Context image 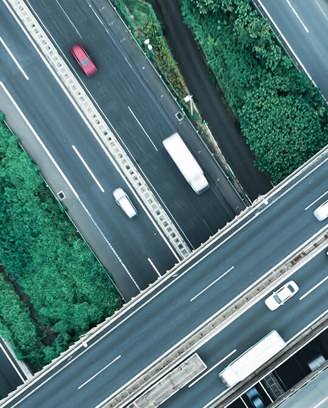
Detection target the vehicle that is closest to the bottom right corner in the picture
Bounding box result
[304,347,321,366]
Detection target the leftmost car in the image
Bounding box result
[71,42,96,77]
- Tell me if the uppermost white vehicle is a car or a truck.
truck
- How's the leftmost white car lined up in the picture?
on a diagonal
